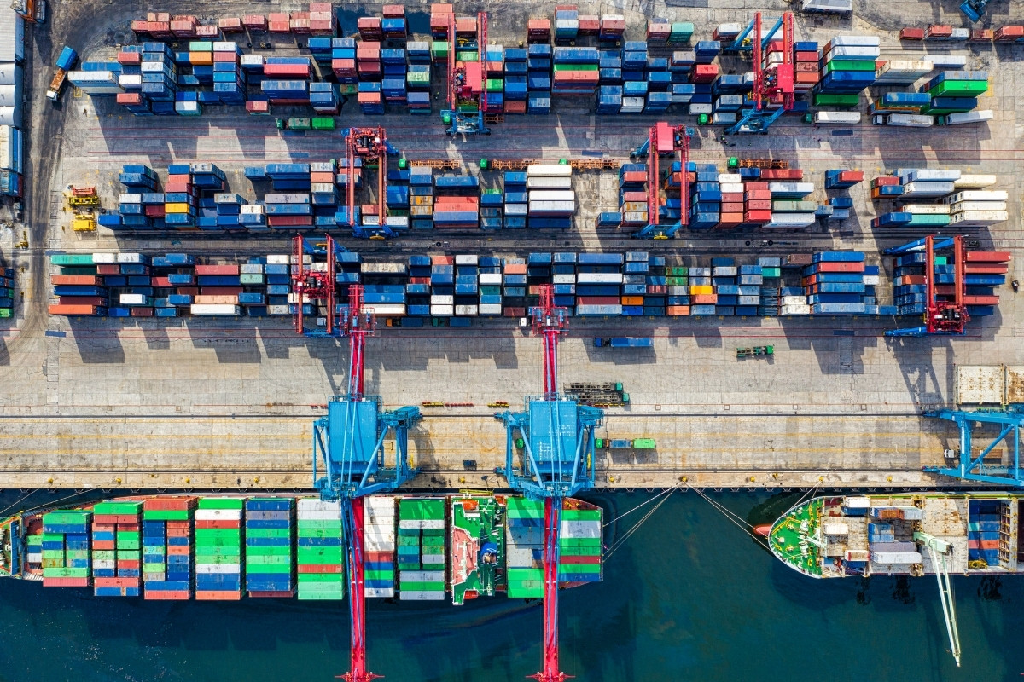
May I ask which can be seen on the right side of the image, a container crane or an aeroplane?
container crane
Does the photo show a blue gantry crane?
Yes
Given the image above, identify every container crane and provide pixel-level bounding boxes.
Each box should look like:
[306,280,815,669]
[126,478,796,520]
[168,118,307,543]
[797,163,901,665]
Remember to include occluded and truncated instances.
[923,405,1024,493]
[445,11,494,137]
[344,126,404,239]
[725,11,795,137]
[495,285,602,682]
[879,235,965,336]
[307,285,432,682]
[292,235,357,336]
[632,122,693,239]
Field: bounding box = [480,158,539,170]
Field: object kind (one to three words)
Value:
vehicle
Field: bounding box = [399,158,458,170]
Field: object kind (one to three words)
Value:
vehicle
